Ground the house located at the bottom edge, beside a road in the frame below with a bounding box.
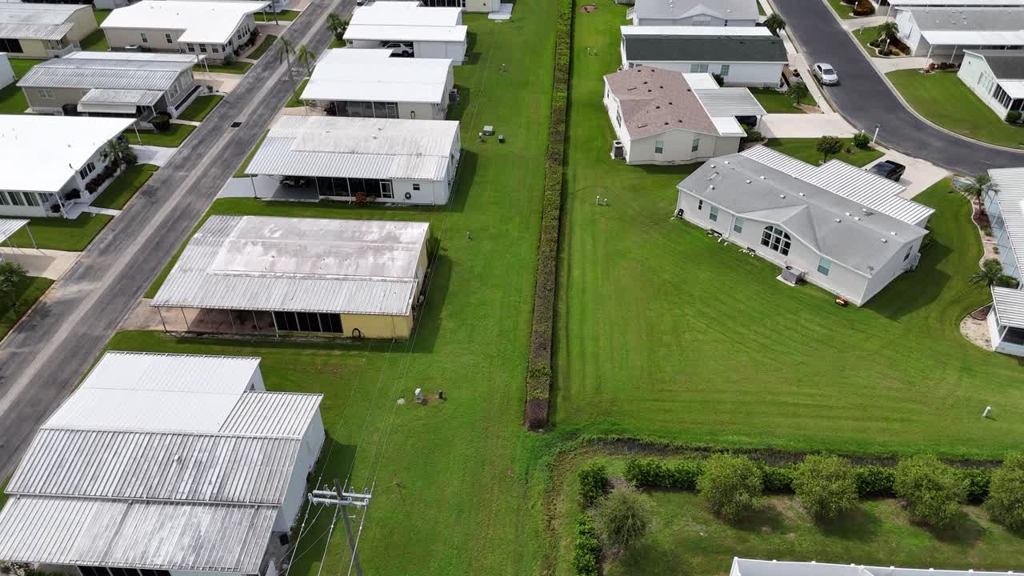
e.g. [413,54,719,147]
[0,347,324,576]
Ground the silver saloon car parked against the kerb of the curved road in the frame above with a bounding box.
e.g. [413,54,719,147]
[814,64,838,83]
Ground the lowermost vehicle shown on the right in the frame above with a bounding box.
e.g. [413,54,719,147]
[869,160,905,182]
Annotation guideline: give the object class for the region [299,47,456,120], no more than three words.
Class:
house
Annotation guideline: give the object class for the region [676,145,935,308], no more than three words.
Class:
house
